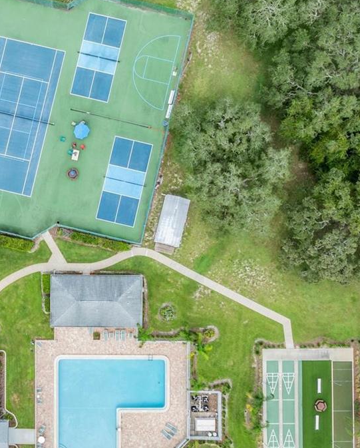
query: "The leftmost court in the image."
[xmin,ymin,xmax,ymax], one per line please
[0,36,65,195]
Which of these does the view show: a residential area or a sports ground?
sports ground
